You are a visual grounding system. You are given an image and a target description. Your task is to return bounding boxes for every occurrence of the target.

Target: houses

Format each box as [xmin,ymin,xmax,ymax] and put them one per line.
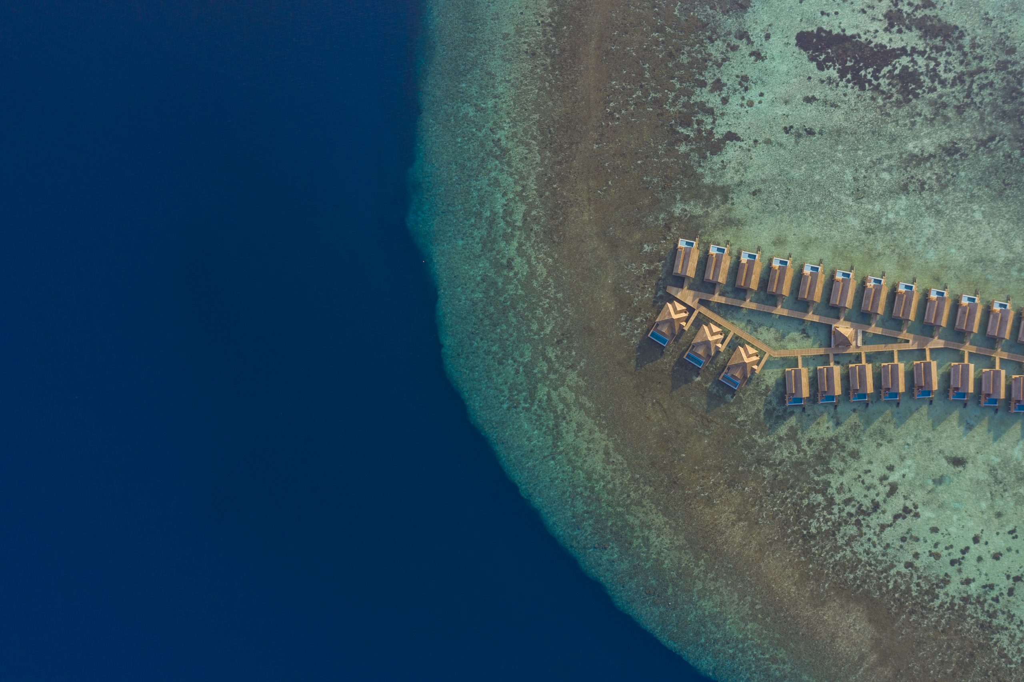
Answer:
[954,290,982,334]
[784,367,809,411]
[816,365,841,409]
[673,236,700,278]
[683,322,726,374]
[797,259,825,303]
[985,296,1013,340]
[704,242,731,285]
[847,363,873,407]
[978,368,1005,413]
[735,248,762,291]
[767,254,794,297]
[647,300,690,353]
[718,344,761,395]
[890,278,919,322]
[879,362,905,406]
[911,360,937,404]
[859,272,887,315]
[828,266,856,309]
[946,362,974,407]
[1009,375,1024,413]
[922,284,950,327]
[1016,305,1024,345]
